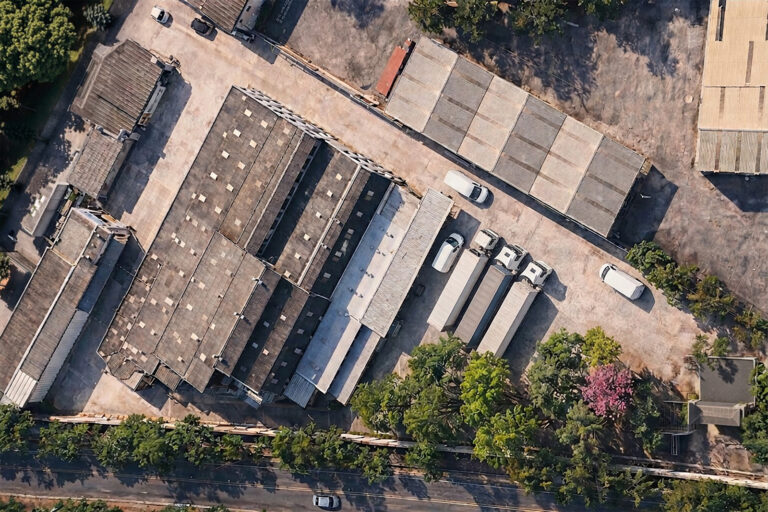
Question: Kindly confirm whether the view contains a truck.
Yes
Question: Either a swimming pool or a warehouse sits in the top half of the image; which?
warehouse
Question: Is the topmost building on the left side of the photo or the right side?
left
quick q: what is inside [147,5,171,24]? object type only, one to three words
car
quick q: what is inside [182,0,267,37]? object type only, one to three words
building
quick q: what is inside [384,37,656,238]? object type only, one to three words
warehouse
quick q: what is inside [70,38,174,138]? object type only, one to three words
house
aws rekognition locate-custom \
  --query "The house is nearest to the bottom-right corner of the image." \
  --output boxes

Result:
[688,357,760,431]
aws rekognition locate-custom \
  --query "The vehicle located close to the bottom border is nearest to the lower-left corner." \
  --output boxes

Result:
[310,496,339,510]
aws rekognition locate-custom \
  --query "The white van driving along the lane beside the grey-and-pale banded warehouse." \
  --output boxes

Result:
[442,172,488,201]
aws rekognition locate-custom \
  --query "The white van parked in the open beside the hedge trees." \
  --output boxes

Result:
[601,268,644,298]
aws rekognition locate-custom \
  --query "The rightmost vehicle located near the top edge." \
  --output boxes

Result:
[188,16,215,35]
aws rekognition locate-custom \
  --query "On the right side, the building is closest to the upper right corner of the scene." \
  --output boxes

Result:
[697,0,768,174]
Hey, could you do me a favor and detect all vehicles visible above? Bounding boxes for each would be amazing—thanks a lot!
[431,235,462,271]
[442,172,488,201]
[454,244,524,345]
[310,496,339,510]
[478,261,548,362]
[601,268,644,298]
[428,228,499,329]
[147,5,171,24]
[188,16,215,35]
